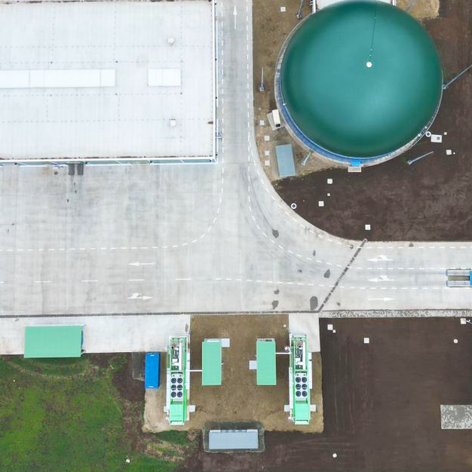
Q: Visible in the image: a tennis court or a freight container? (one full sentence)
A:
The one in the frame is a freight container.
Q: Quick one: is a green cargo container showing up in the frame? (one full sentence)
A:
Yes, there's a green cargo container down there.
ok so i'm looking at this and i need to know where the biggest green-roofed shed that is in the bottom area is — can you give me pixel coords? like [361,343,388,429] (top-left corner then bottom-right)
[24,324,89,358]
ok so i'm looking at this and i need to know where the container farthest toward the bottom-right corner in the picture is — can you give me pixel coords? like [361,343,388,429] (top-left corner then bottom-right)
[250,337,277,386]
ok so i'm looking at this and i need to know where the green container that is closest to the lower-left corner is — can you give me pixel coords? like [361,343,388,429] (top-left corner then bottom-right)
[201,337,231,386]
